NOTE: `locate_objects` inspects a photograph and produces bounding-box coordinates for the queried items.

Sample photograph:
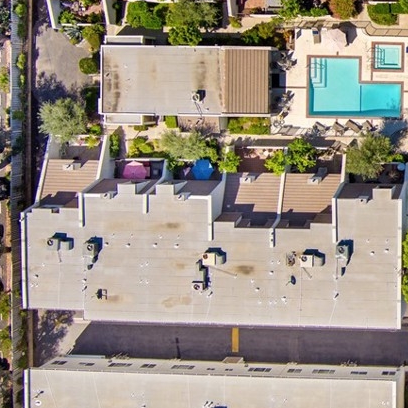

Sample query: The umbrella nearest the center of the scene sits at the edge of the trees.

[193,158,216,178]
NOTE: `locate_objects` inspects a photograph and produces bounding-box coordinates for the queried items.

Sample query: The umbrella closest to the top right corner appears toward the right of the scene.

[324,22,351,50]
